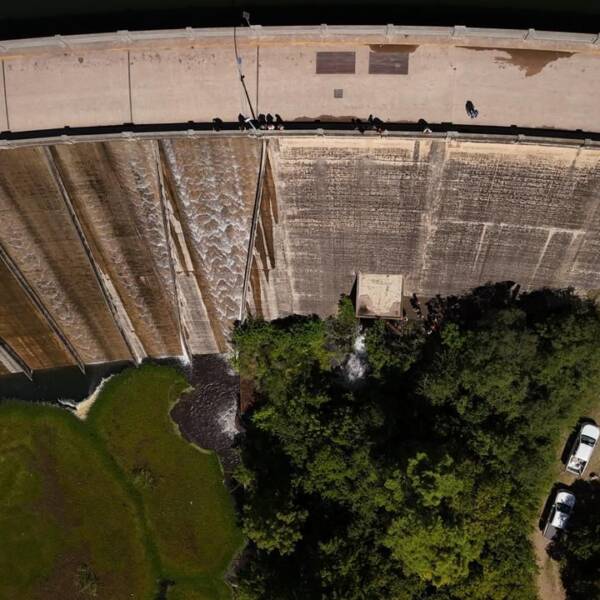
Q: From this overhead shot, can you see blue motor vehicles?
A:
No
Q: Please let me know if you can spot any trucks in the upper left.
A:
No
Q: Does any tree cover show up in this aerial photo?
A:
Yes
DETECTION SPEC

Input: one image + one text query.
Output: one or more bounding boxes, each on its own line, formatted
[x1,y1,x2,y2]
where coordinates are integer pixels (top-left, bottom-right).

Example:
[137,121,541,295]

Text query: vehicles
[540,485,573,543]
[562,421,598,478]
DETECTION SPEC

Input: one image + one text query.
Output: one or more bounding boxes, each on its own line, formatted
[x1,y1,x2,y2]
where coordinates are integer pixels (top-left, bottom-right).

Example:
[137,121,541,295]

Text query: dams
[0,24,600,375]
